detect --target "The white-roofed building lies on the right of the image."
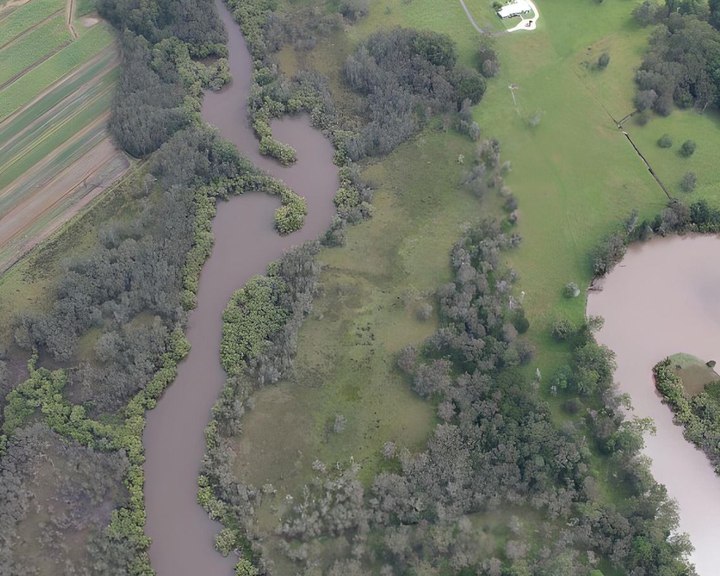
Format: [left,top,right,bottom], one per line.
[497,0,532,23]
